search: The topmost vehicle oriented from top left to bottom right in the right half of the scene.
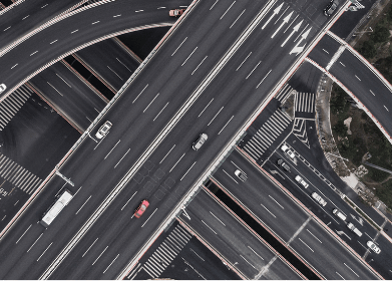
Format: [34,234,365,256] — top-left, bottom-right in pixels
[279,144,296,159]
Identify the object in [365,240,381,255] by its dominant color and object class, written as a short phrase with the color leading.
white car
